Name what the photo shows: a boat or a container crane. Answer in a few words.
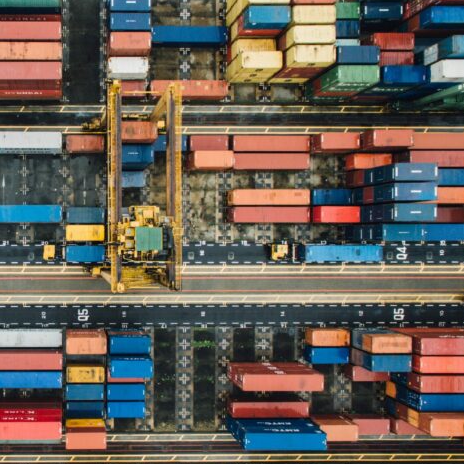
container crane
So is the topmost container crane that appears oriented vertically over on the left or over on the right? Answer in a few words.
left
